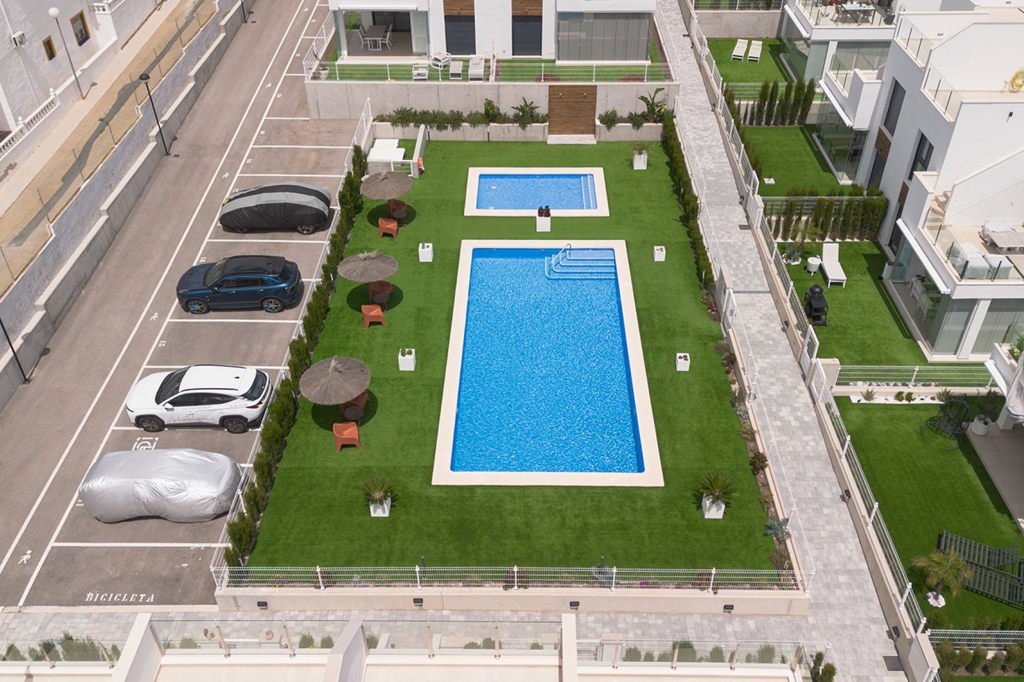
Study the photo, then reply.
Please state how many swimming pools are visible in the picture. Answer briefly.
2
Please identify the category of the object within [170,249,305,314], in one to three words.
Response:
car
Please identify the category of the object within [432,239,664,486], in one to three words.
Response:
swimming pool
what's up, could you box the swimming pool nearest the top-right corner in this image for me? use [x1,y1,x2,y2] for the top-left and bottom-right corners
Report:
[464,167,610,216]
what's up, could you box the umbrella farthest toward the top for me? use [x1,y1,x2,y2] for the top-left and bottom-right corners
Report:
[362,168,413,219]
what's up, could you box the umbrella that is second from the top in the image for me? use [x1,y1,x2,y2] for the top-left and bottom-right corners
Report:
[332,250,397,303]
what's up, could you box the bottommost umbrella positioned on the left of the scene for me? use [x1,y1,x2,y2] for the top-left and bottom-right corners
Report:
[296,354,373,422]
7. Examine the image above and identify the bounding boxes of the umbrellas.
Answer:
[362,168,413,219]
[296,354,373,422]
[332,250,397,303]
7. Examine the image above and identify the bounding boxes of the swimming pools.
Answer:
[464,167,610,216]
[432,239,664,486]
